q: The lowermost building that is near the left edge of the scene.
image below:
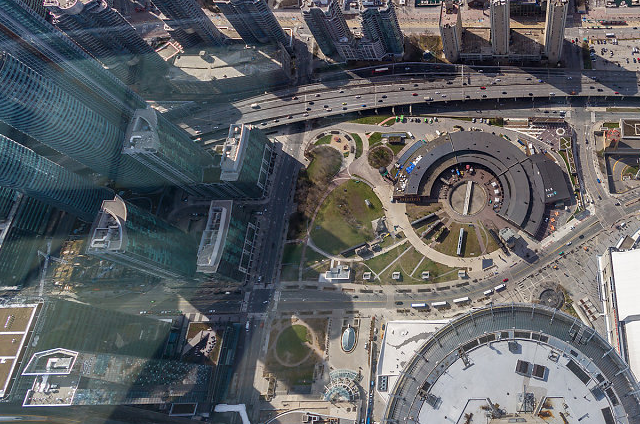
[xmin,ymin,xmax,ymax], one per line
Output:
[20,374,197,406]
